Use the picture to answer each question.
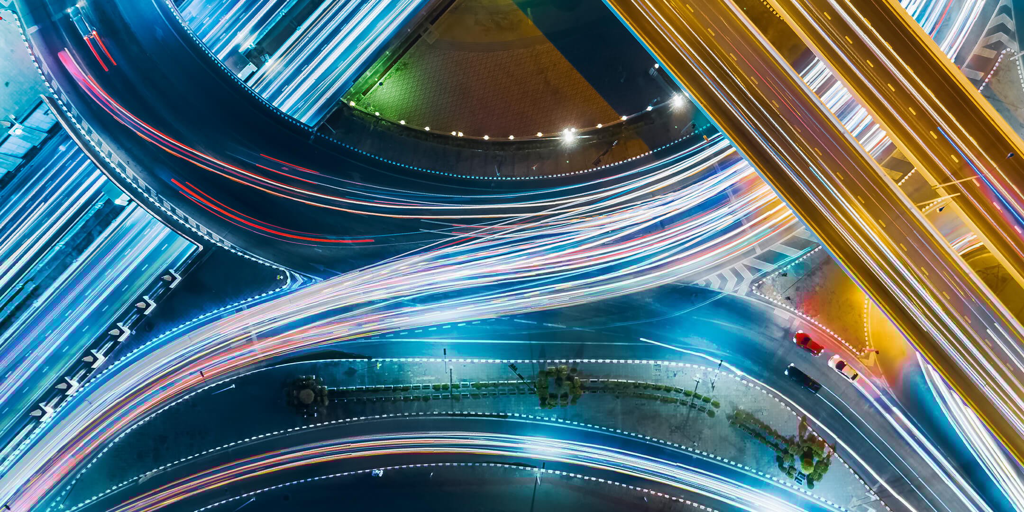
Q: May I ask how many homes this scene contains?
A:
0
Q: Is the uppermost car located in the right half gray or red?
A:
red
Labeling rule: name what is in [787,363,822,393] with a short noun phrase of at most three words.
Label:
car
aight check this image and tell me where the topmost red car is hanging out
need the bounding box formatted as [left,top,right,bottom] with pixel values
[795,330,826,356]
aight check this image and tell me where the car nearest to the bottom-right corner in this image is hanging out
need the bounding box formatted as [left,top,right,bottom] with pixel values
[830,354,861,381]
